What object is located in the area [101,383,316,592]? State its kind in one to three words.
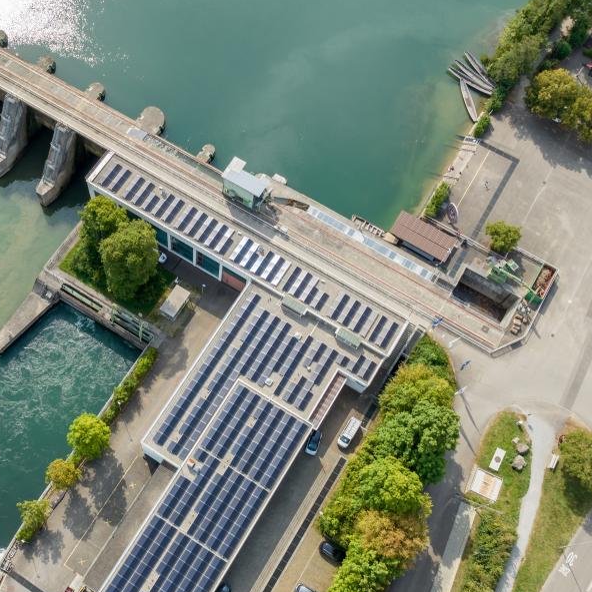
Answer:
building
